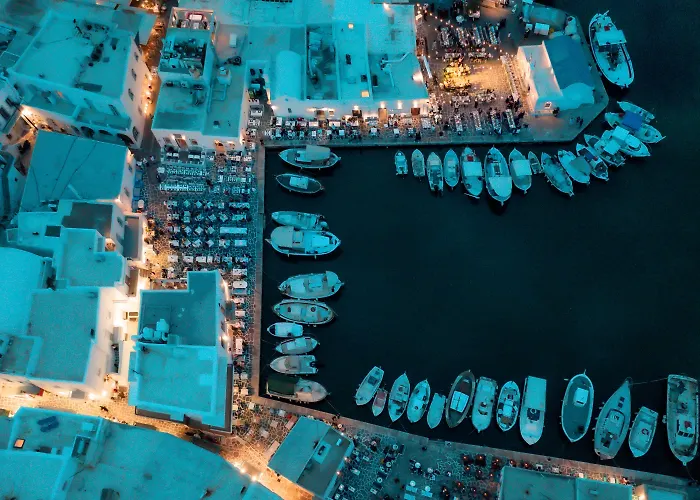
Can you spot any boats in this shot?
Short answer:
Yes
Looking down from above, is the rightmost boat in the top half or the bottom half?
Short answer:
bottom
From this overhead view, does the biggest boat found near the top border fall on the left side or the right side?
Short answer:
right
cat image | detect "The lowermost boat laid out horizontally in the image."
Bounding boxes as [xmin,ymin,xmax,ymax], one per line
[265,377,340,415]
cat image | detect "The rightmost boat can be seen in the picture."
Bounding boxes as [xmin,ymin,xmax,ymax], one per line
[663,373,700,484]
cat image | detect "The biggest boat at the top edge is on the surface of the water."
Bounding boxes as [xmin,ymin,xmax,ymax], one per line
[591,10,637,92]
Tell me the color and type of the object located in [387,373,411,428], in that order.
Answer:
blue boat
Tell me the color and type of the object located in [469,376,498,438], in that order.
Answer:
blue boat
